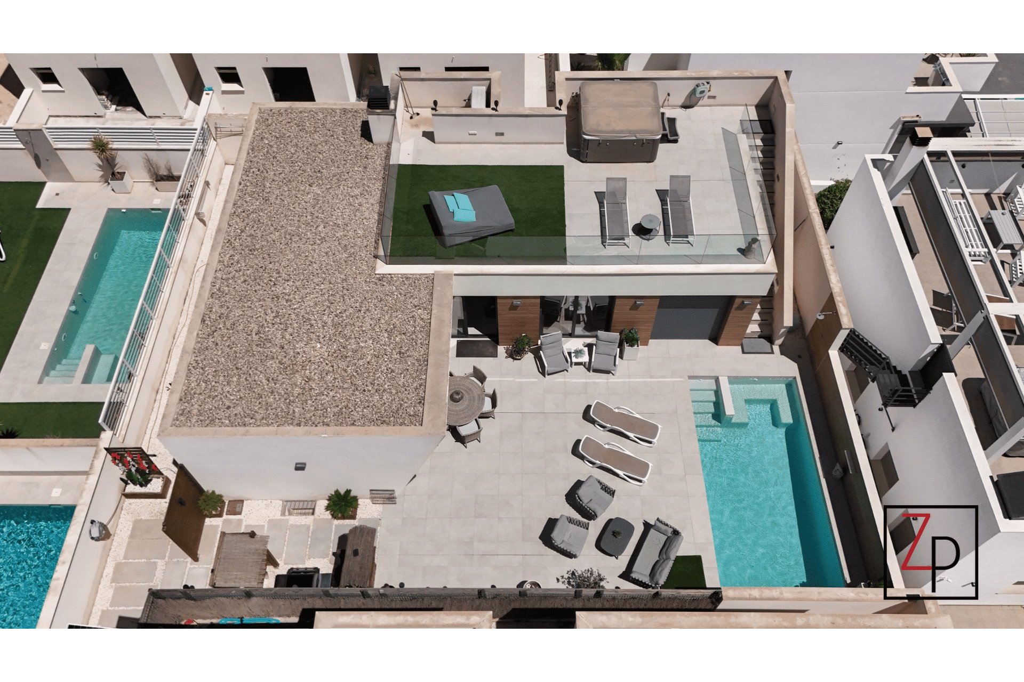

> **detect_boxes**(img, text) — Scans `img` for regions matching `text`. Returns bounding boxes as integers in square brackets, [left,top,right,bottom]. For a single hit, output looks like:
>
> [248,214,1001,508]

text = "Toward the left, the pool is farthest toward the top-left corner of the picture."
[38,209,185,384]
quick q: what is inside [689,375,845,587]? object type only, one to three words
swimming pool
